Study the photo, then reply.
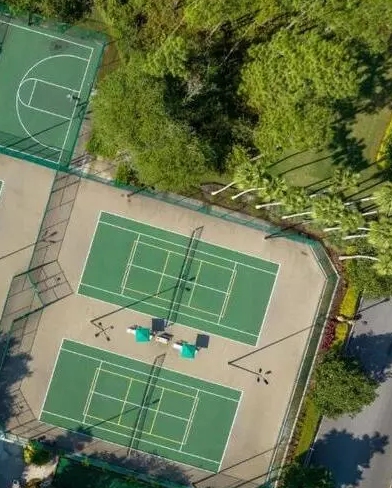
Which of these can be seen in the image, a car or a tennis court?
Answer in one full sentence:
Visible in the photo is a tennis court.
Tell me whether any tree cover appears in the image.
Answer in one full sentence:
Yes, there is tree cover in the image.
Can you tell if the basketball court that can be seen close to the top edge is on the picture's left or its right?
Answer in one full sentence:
The basketball court that can be seen close to the top edge is on the left side of the image.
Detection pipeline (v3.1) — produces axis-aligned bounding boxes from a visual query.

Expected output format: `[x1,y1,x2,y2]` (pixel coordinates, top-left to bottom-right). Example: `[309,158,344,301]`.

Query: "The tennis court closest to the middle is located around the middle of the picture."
[78,212,280,347]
